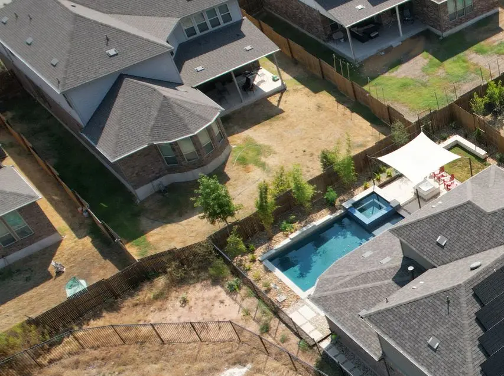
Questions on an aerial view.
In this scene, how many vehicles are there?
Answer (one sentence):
The photo contains no vehicles.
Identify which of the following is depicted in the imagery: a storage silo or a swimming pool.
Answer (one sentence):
Visible in the photo is a swimming pool.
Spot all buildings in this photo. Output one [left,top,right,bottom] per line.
[306,181,504,376]
[248,0,495,65]
[0,0,287,201]
[0,165,63,272]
